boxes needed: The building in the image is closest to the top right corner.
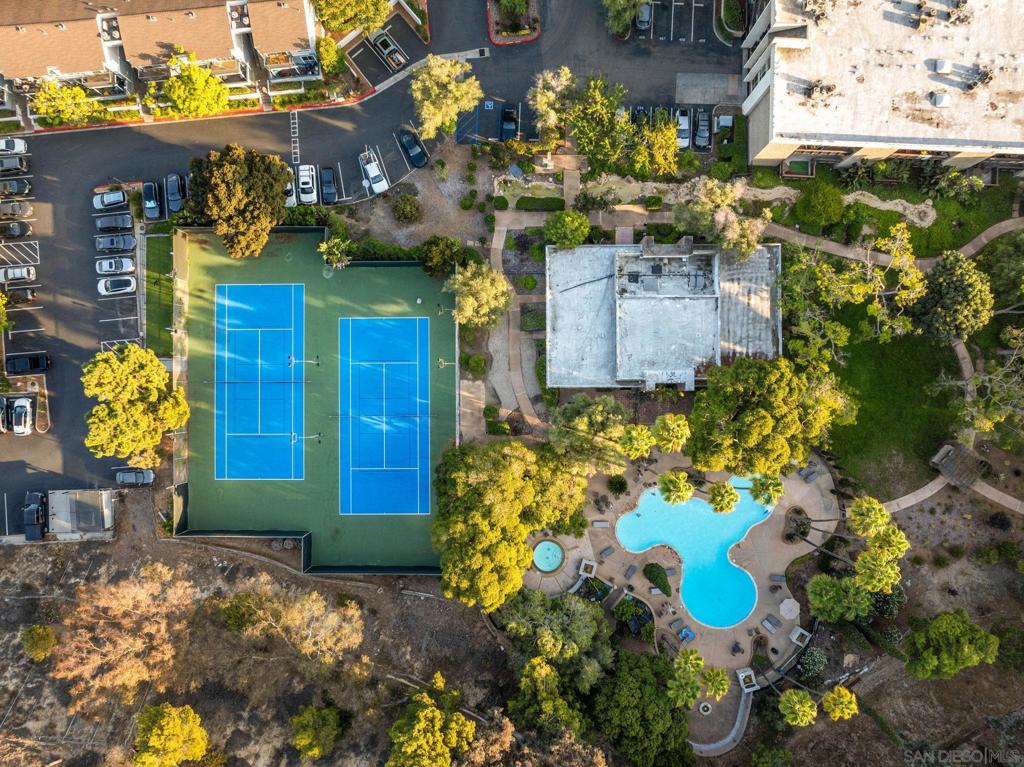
[735,0,1024,158]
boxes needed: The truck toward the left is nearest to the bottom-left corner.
[21,493,46,539]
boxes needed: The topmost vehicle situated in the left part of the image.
[369,26,405,67]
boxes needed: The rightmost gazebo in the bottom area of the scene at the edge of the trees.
[923,439,986,494]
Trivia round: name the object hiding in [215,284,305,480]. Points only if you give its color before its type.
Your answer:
blue tennis court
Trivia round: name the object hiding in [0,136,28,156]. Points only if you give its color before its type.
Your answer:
white car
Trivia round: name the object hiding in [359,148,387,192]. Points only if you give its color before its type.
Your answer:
white truck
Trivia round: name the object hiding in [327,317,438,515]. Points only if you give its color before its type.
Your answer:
blue tennis court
